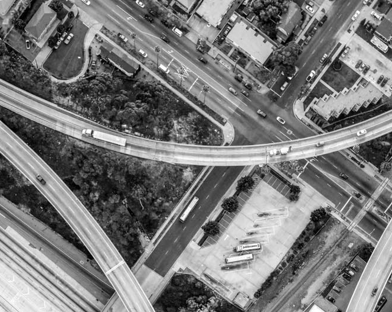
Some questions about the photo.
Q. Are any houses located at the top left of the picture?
Yes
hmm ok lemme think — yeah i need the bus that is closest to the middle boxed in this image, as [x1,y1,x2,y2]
[180,194,201,221]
